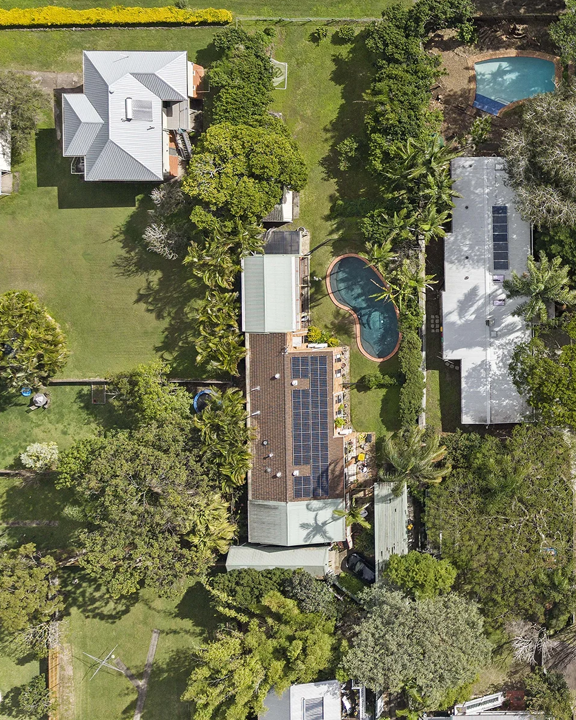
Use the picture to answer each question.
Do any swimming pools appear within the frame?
Yes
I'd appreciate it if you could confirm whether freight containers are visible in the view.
No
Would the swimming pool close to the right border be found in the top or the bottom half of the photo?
top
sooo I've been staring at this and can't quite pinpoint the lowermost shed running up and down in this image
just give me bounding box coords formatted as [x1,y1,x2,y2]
[373,483,408,582]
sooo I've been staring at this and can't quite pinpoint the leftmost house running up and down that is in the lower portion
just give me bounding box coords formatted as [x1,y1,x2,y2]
[247,330,354,552]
